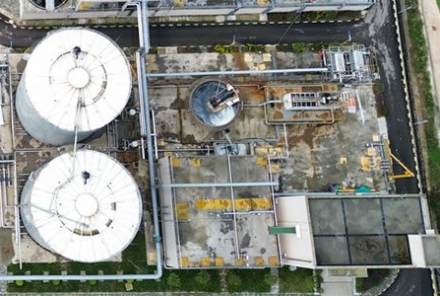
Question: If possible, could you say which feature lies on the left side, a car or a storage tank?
storage tank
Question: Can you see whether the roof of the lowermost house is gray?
Yes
